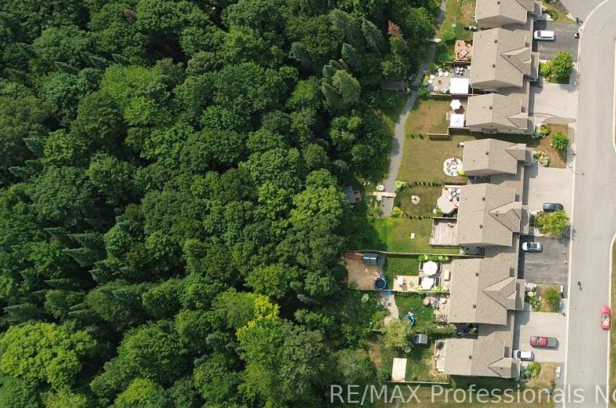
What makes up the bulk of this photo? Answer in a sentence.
The largest share of the image is taken up by trees.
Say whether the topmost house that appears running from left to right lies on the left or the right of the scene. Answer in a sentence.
You can find the topmost house that appears running from left to right on the right side of the picture.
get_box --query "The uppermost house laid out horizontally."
[476,0,542,32]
